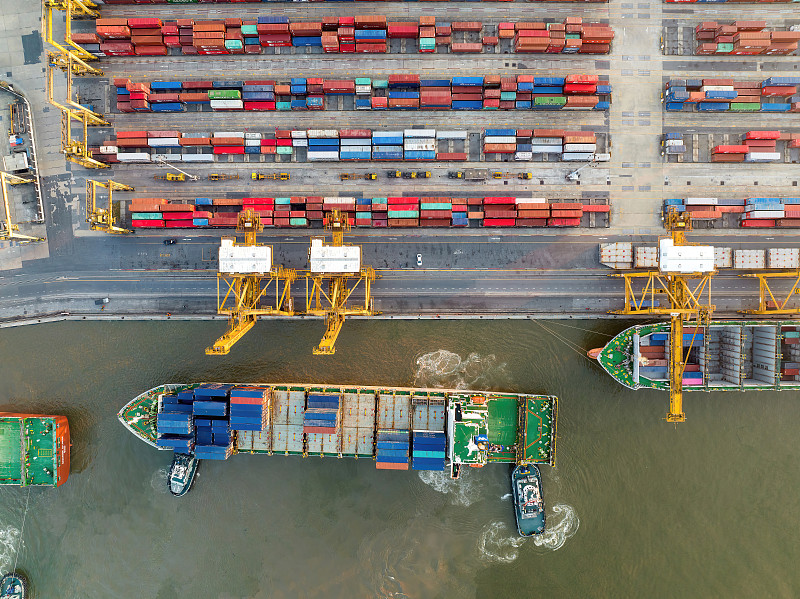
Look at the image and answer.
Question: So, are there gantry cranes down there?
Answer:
Yes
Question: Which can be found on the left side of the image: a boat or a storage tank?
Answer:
boat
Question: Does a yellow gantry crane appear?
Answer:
Yes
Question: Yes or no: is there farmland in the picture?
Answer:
No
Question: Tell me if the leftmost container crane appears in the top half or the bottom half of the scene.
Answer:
top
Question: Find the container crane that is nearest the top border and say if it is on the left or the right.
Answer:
left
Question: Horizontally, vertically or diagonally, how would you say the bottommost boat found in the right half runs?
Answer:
vertically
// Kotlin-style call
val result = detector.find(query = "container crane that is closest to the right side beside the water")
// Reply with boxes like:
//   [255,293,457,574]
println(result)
[745,272,800,316]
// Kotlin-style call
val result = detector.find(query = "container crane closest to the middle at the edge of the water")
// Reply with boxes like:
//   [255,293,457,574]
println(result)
[305,205,388,358]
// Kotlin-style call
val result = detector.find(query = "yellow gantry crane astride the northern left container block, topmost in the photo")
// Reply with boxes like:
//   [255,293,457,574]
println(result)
[45,0,103,63]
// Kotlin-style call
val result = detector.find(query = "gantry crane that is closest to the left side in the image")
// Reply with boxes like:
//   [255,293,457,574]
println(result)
[0,166,48,243]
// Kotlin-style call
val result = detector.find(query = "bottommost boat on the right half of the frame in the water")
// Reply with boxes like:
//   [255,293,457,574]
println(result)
[512,465,546,538]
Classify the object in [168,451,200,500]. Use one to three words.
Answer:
boat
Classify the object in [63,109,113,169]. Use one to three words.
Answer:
container crane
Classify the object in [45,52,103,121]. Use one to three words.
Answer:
container crane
